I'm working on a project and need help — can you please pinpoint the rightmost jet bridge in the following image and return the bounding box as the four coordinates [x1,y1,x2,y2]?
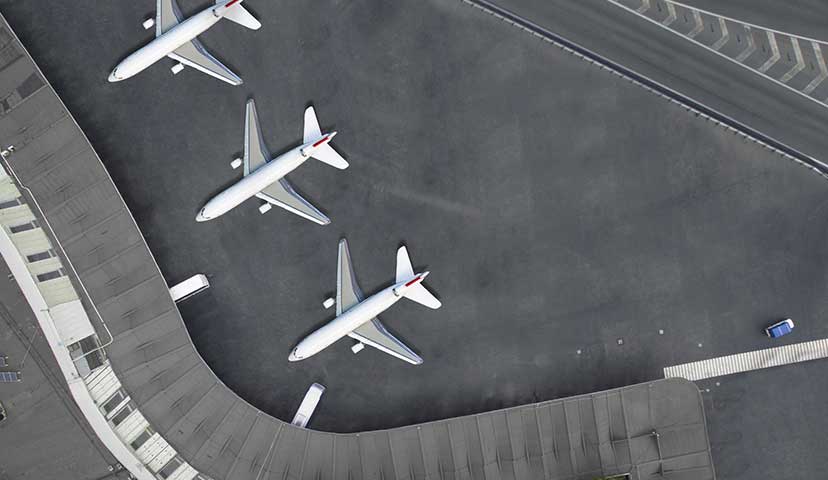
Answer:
[292,383,327,428]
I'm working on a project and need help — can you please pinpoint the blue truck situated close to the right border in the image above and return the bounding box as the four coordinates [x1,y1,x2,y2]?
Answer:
[766,317,796,339]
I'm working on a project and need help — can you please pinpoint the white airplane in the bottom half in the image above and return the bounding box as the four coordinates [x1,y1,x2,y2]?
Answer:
[289,238,441,365]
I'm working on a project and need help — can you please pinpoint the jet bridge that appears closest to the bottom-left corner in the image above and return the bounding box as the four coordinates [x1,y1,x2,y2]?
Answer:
[169,275,211,304]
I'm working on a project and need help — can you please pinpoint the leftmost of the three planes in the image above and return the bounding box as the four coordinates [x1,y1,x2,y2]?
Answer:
[108,0,260,86]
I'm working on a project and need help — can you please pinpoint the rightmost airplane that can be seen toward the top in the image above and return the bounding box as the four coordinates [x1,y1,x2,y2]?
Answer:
[196,98,349,225]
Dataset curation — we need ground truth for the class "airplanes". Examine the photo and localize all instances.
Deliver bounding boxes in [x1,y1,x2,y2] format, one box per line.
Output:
[108,0,260,86]
[196,98,349,225]
[289,238,441,365]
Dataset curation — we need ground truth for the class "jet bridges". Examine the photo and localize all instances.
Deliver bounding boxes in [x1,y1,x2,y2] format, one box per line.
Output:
[292,383,327,428]
[169,275,211,304]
